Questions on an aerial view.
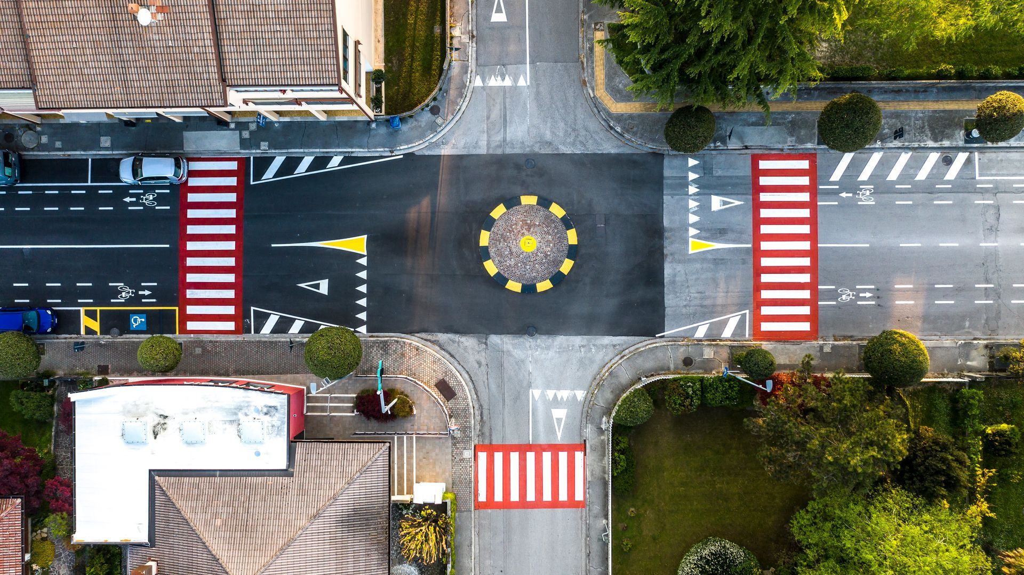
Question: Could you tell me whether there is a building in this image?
Yes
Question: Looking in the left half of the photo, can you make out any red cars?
No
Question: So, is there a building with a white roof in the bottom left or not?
Yes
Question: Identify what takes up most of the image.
paved ground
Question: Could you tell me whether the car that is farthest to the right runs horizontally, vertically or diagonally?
horizontally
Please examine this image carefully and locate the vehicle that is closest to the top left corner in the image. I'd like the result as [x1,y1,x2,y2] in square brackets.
[0,151,28,184]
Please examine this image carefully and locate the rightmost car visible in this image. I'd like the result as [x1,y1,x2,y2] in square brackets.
[120,151,189,186]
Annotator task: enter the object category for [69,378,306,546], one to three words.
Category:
building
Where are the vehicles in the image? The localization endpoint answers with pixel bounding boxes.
[120,151,189,186]
[0,151,28,184]
[0,304,60,335]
